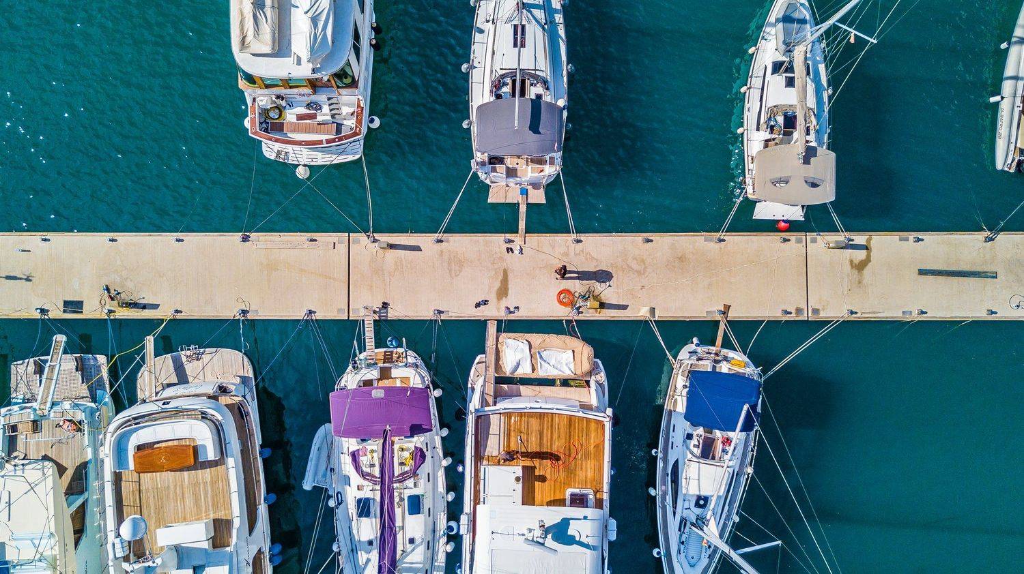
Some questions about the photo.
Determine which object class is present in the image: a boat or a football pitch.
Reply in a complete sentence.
I can see a boat in this picture.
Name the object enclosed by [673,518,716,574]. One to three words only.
boat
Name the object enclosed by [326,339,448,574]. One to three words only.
boat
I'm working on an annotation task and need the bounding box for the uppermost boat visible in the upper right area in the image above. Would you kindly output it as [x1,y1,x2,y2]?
[773,0,816,59]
